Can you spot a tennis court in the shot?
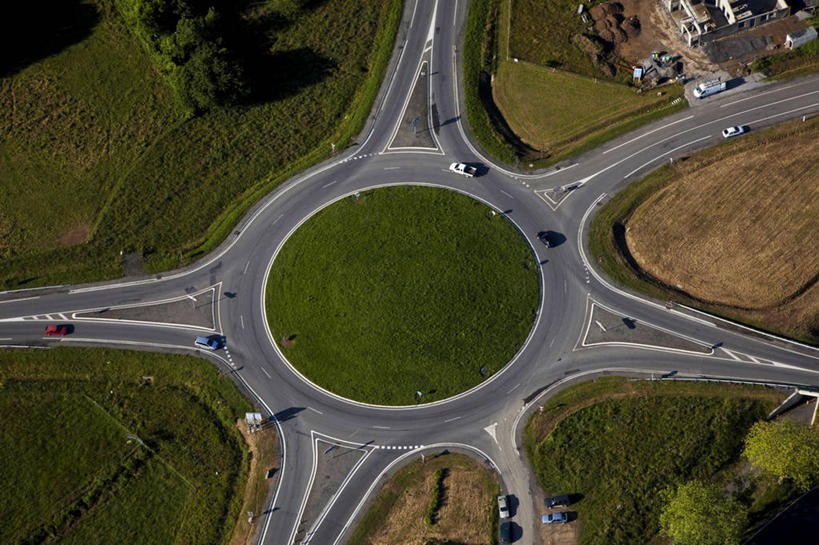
No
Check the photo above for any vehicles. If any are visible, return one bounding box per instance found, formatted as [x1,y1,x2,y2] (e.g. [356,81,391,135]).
[449,162,477,178]
[695,78,728,99]
[543,494,571,510]
[498,495,510,520]
[194,335,219,351]
[541,512,569,526]
[499,522,512,545]
[44,325,68,337]
[537,231,556,250]
[721,125,745,138]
